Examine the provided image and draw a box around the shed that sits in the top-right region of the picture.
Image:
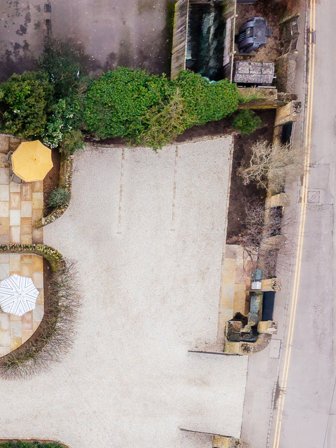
[223,62,278,93]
